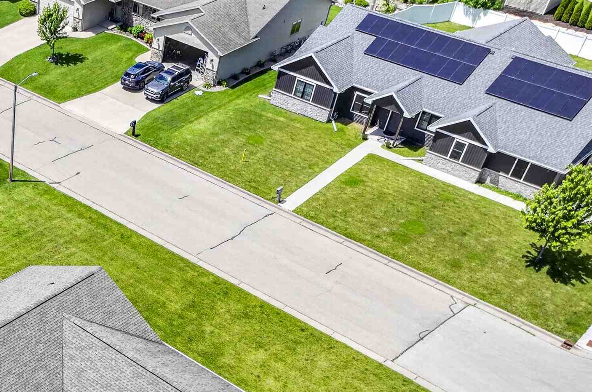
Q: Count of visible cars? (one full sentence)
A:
There are 2 cars in the image.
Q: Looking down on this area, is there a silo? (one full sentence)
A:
No, no silo can be seen from above.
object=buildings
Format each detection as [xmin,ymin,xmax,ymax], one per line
[32,0,334,84]
[0,265,244,392]
[270,0,592,195]
[505,0,562,14]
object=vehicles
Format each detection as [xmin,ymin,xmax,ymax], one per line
[147,59,198,97]
[127,56,173,86]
